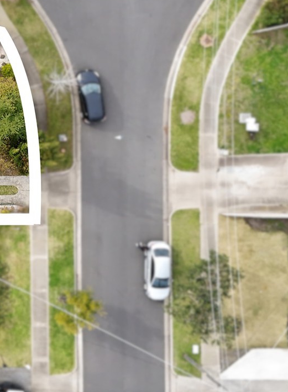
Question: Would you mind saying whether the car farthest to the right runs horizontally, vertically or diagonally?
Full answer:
From this overhead view, the car farthest to the right appears to run vertically.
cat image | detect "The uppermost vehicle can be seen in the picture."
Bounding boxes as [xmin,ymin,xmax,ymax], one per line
[75,68,107,124]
